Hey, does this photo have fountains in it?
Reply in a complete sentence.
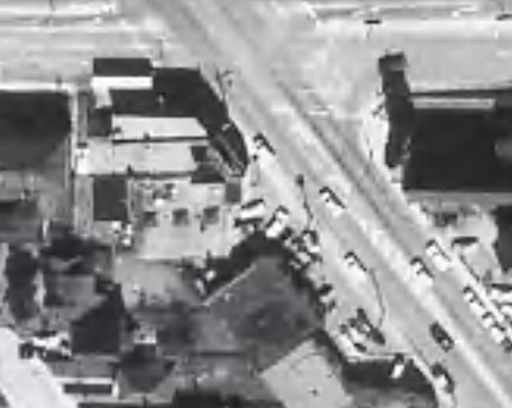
No, there isn't any fountain down there.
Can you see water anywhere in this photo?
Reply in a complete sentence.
No, the scene doesn't show any water.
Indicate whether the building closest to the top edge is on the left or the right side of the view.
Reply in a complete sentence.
You can find the building closest to the top edge on the left side of the picture.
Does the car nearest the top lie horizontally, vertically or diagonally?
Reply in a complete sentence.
The car nearest the top is laid out diagonally.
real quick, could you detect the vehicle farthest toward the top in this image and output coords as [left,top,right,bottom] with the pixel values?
[252,132,276,158]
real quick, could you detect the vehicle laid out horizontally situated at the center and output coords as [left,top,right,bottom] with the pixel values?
[238,203,268,219]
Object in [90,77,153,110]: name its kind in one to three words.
building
